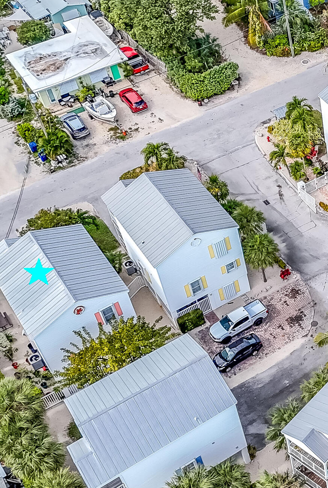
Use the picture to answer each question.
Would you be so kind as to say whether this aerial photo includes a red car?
Yes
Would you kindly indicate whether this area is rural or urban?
urban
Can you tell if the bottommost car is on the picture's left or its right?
right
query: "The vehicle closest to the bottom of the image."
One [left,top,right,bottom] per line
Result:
[207,326,269,369]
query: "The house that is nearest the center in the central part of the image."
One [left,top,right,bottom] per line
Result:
[101,168,250,330]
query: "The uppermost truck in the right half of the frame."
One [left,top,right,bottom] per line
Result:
[205,293,272,343]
